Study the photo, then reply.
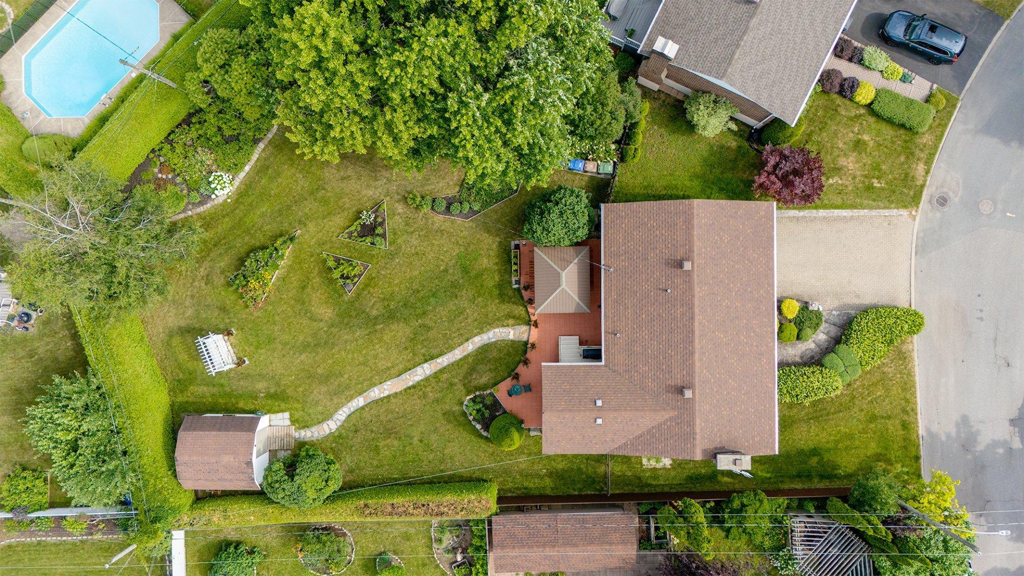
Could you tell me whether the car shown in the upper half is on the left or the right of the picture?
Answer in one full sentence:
The car shown in the upper half sits on the right side.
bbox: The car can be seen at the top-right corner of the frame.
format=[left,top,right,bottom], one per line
[878,9,976,67]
